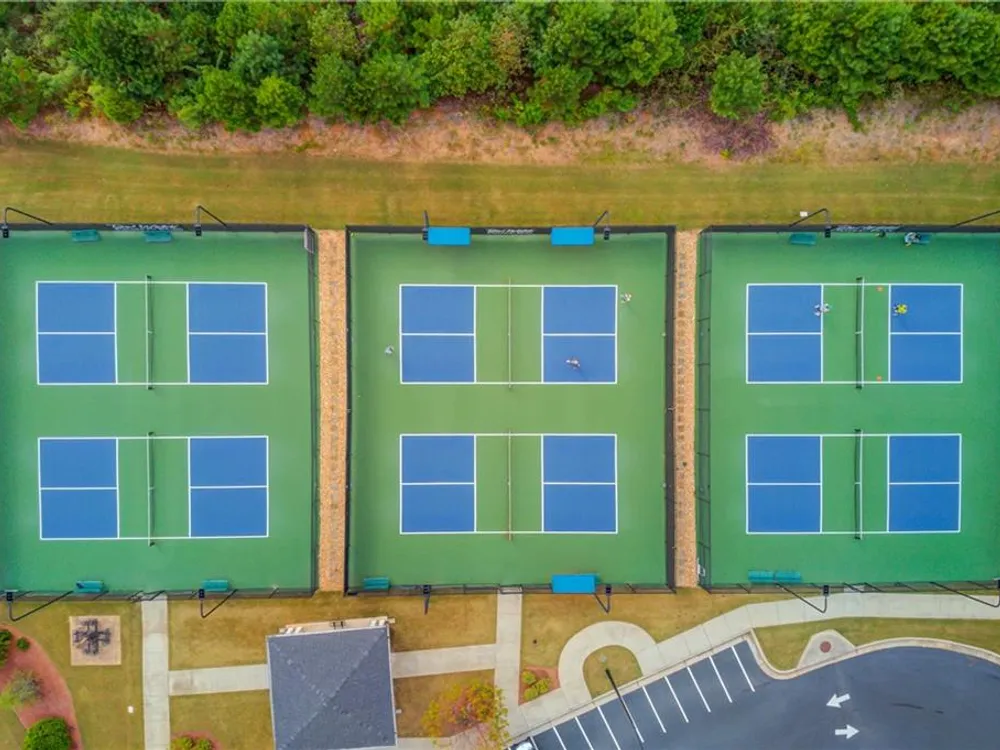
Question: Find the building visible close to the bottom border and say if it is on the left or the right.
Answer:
left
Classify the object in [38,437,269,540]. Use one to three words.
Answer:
sports court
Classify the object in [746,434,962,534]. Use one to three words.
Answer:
sports court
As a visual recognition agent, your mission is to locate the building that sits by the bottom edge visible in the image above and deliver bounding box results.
[267,617,399,750]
